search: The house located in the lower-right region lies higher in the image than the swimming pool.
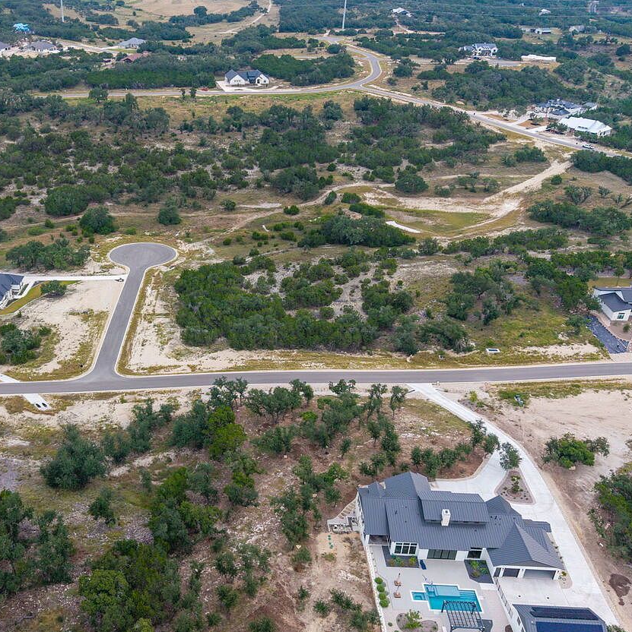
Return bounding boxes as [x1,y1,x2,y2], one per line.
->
[357,469,565,581]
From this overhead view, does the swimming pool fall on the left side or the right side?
right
